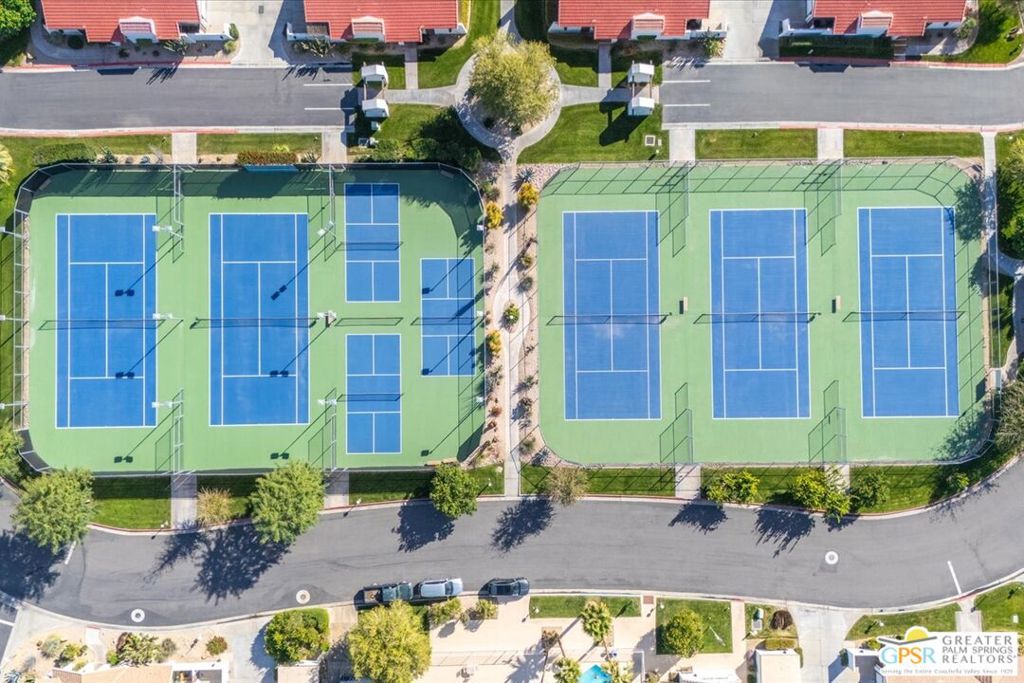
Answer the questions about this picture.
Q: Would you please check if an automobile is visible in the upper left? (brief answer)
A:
No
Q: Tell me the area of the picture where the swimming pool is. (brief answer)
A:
bottom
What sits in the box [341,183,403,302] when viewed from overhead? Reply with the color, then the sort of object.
blue sports court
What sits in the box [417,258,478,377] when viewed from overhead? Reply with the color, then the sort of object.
blue sports court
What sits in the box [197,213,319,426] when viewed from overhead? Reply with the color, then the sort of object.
blue tennis court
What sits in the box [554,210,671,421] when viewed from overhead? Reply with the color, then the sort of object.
blue tennis court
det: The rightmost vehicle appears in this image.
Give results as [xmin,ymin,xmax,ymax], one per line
[486,576,529,598]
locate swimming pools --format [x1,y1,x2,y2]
[577,663,607,683]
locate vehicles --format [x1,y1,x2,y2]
[419,577,464,599]
[486,576,529,598]
[362,581,415,604]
